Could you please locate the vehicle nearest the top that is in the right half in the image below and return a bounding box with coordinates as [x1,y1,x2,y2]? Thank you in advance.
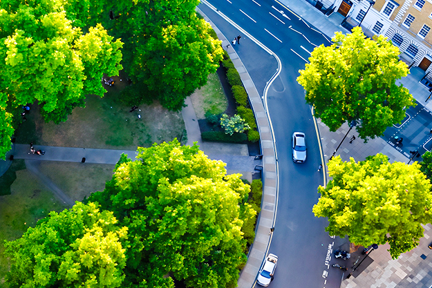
[291,133,307,162]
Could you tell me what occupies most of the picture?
trees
